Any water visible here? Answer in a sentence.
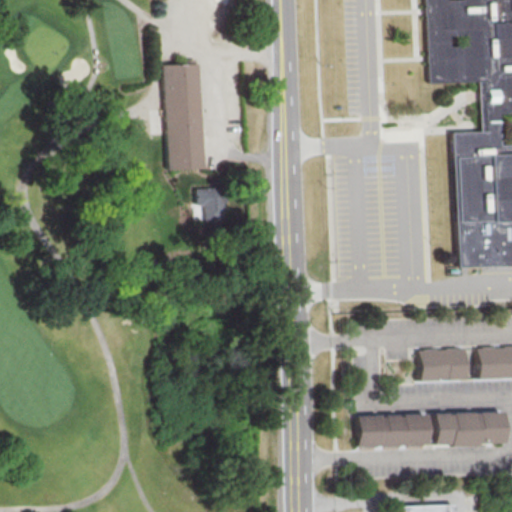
No, there's no water in this view.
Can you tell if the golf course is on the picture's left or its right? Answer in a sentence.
The golf course appears in the left half of the scene.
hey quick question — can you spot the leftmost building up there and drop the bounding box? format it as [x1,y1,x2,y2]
[164,64,204,172]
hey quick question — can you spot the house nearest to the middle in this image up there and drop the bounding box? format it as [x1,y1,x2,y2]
[190,188,230,221]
